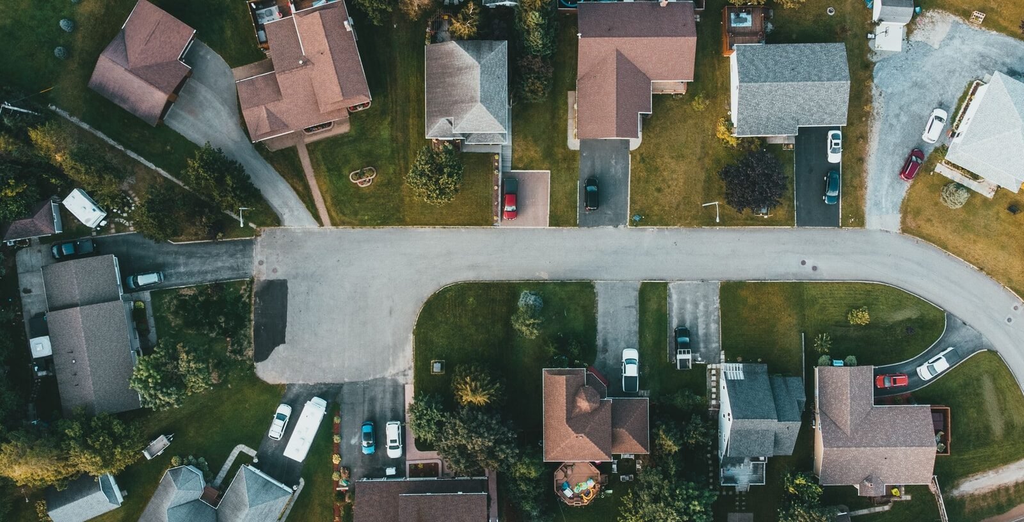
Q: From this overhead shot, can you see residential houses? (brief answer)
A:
Yes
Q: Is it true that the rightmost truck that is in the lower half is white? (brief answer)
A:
Yes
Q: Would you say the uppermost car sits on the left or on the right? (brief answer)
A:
right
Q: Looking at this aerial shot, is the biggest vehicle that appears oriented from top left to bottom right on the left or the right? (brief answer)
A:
left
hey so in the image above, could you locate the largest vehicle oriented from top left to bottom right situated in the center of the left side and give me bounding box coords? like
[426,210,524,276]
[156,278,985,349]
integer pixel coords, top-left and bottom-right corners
[62,189,107,227]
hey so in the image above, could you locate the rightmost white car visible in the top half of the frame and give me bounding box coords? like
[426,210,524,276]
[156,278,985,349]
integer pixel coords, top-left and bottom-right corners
[921,107,948,144]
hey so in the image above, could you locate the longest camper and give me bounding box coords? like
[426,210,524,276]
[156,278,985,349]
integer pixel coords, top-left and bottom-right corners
[279,392,331,468]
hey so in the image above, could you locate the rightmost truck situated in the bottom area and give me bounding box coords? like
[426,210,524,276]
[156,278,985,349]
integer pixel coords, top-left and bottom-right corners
[915,346,962,381]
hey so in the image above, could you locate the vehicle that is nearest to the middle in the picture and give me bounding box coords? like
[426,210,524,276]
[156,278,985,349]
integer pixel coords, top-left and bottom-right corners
[501,178,519,219]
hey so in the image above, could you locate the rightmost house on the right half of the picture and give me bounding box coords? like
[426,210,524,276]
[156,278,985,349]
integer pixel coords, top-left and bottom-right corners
[941,70,1024,195]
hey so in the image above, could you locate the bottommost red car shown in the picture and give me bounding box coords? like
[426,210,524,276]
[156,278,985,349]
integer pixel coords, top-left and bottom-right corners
[875,373,908,390]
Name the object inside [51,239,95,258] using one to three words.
vehicle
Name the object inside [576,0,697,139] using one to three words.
house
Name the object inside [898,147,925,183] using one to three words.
car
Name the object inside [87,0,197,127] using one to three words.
building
